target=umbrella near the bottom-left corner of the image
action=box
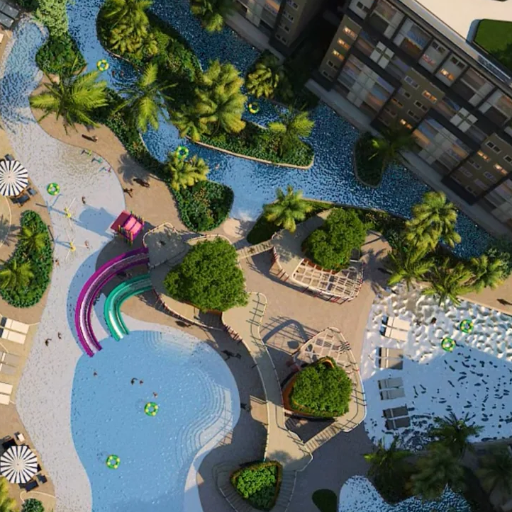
[1,446,39,483]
